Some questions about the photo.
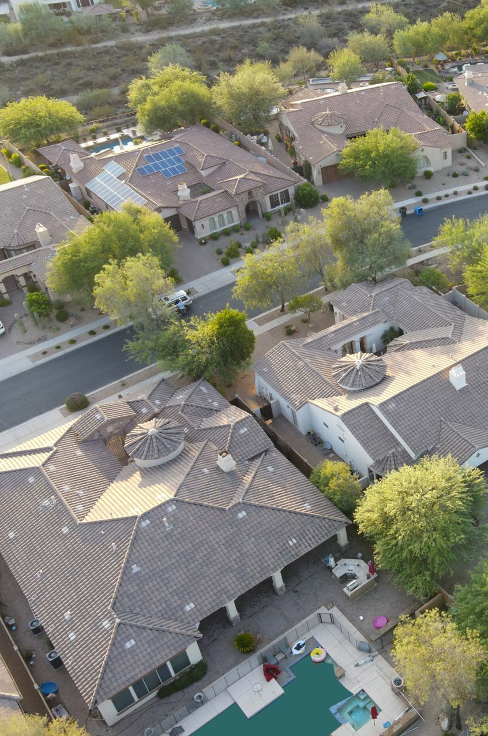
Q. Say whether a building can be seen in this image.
Yes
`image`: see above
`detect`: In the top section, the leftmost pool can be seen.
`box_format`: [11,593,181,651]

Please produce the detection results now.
[88,126,155,154]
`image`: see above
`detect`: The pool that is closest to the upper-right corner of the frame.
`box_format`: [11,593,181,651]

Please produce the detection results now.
[443,58,488,73]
